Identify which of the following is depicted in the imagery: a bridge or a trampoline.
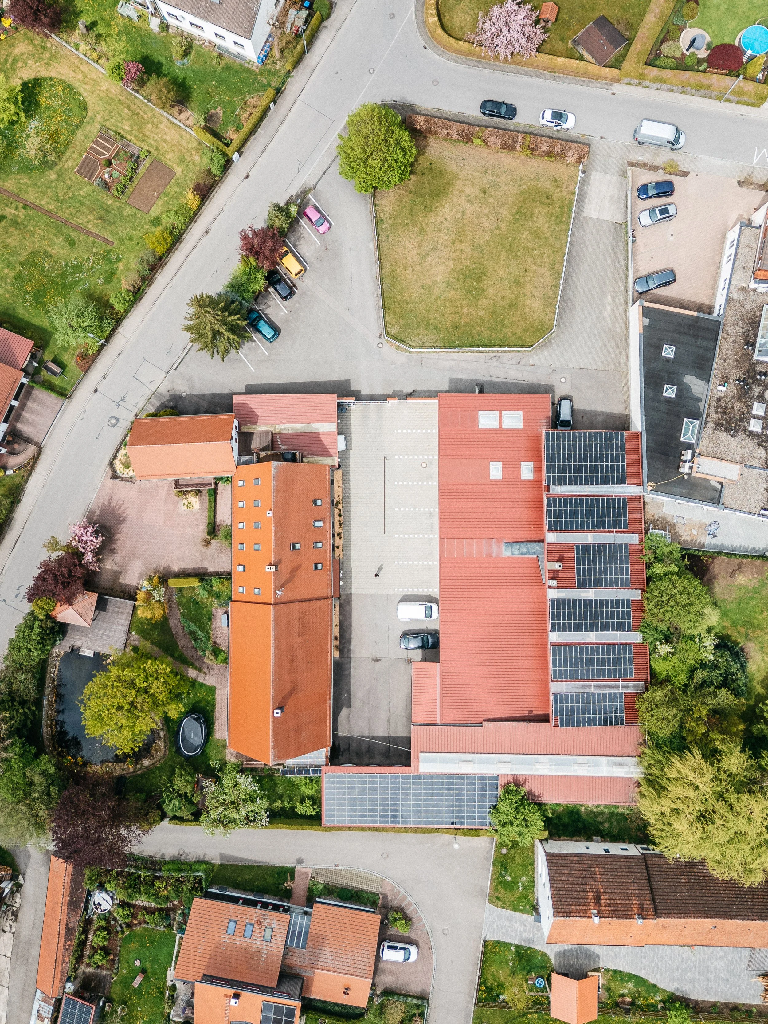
trampoline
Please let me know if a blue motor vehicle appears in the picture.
Yes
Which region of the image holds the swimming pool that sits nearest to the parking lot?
top right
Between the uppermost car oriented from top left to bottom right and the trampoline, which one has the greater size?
the trampoline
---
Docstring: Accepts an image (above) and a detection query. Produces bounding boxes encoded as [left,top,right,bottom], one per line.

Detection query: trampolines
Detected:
[172,710,209,762]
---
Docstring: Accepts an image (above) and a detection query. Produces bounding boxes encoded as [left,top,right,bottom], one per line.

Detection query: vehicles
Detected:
[538,108,576,134]
[636,203,679,229]
[635,179,676,204]
[555,397,575,429]
[479,100,517,123]
[397,601,438,621]
[278,246,306,281]
[632,121,685,151]
[400,632,439,651]
[380,940,418,963]
[301,203,332,237]
[265,269,294,303]
[246,310,279,345]
[633,267,678,293]
[338,433,354,453]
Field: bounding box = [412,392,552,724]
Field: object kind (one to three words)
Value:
building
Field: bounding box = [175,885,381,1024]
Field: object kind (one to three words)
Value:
house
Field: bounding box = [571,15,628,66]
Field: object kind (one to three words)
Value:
shed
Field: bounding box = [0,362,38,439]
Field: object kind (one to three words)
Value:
house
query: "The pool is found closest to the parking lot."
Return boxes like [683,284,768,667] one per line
[736,22,768,63]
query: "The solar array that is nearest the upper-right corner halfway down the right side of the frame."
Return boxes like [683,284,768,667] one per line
[545,431,627,485]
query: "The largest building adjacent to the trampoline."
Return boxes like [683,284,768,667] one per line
[226,461,339,766]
